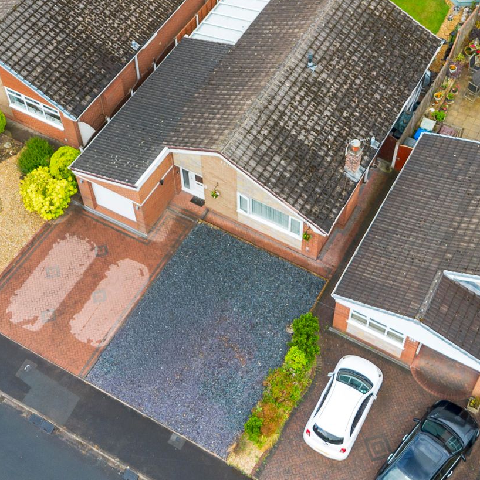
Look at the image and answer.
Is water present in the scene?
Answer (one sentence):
No, there's no water in this view.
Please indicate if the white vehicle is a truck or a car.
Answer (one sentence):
The white vehicle can be classified as a car.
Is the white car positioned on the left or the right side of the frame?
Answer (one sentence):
The white car is on the right side of the image.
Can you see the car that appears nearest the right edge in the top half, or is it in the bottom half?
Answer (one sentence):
The car that appears nearest the right edge is in the bottom half of the image.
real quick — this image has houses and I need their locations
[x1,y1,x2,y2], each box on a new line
[0,0,204,147]
[65,0,446,258]
[329,129,480,395]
